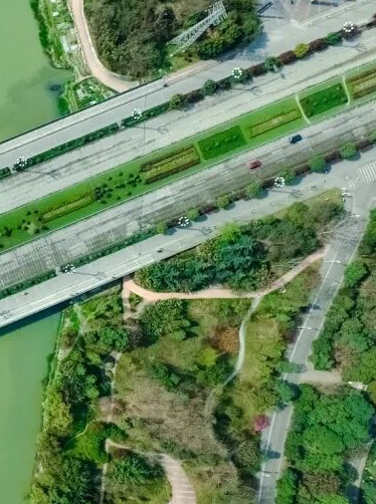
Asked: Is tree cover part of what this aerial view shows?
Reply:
Yes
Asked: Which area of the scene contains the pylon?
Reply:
top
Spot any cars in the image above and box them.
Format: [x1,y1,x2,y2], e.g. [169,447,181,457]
[249,161,262,169]
[288,134,301,143]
